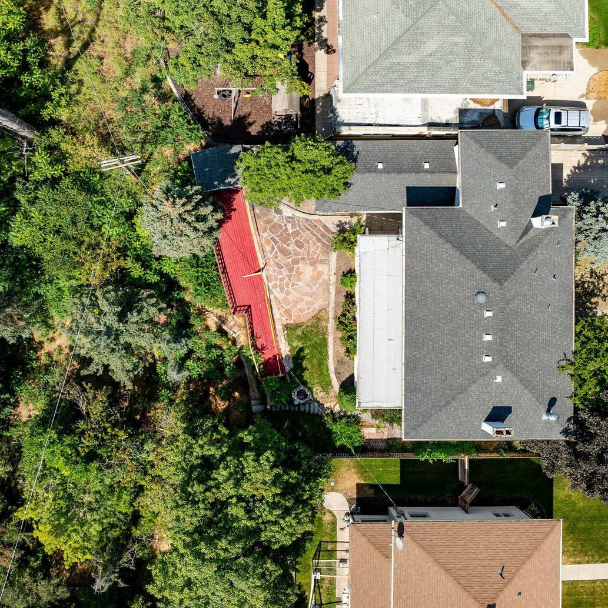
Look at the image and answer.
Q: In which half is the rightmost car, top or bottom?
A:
top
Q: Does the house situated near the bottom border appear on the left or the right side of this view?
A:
right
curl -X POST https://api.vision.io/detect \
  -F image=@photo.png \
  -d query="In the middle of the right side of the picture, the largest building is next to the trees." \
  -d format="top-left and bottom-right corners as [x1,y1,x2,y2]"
[352,128,577,442]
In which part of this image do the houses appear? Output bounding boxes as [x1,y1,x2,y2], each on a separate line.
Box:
[347,506,564,608]
[352,128,577,442]
[334,0,591,100]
